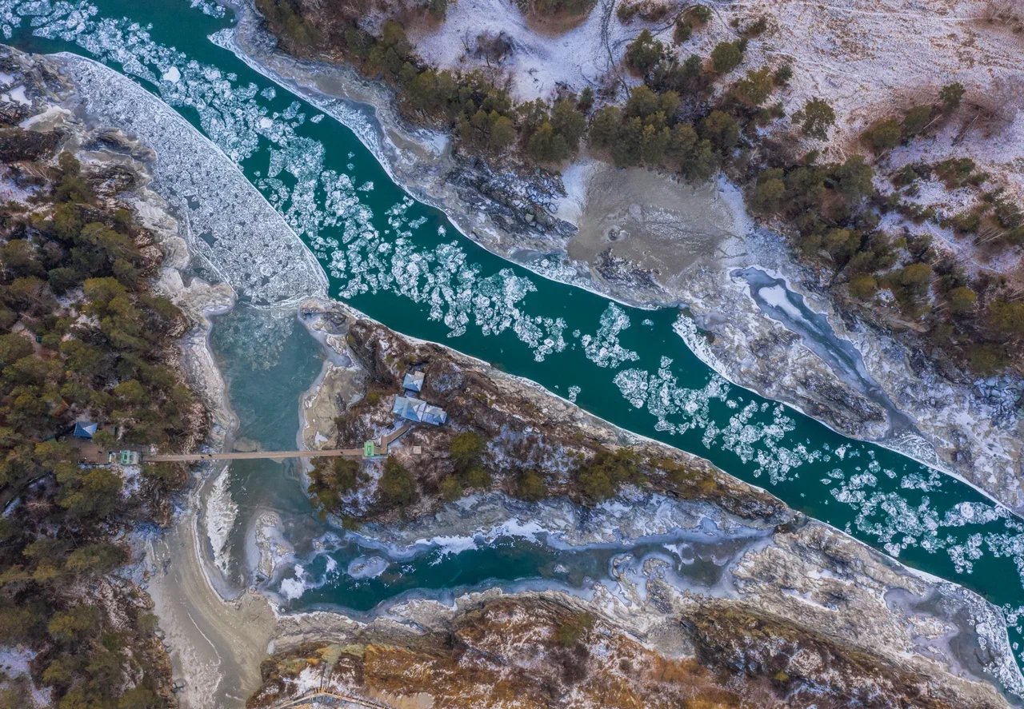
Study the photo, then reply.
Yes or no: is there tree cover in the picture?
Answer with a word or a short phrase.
Yes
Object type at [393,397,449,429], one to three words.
building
